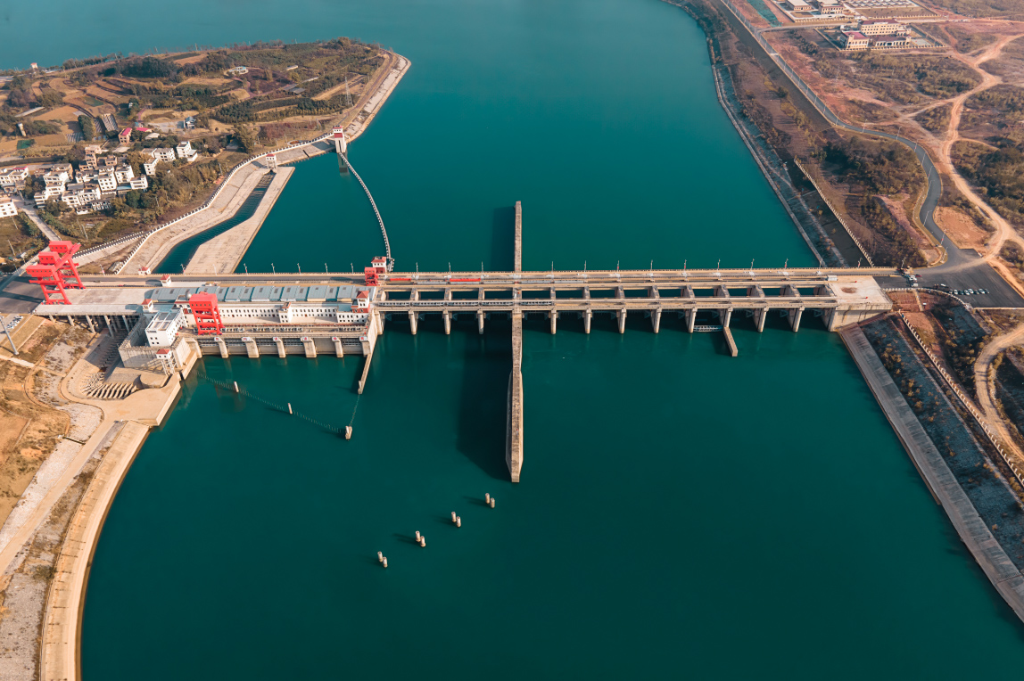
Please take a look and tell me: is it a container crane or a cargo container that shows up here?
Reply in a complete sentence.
Visible in the photo is a container crane.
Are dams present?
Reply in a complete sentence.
Yes, a dam can be made out from above.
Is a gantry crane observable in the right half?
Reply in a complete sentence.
No, there is no gantry crane in the right half.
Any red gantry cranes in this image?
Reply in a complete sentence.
Yes, a red gantry crane is visible in the scene.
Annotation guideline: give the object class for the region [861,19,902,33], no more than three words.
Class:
building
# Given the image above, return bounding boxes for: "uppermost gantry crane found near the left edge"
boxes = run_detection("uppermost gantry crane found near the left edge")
[26,237,86,304]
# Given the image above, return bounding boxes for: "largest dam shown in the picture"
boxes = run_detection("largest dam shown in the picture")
[43,267,892,334]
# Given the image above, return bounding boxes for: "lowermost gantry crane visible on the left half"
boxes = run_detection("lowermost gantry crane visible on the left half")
[187,293,227,334]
